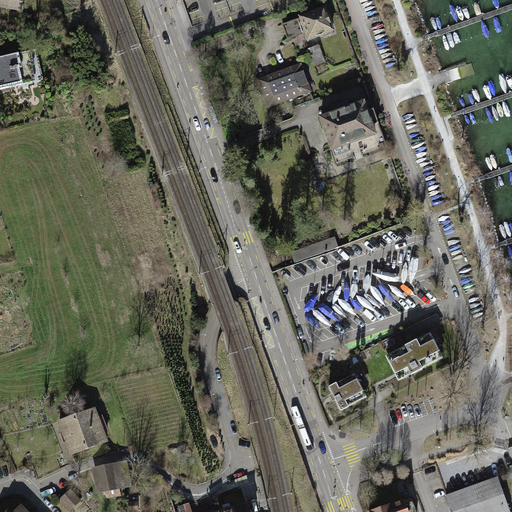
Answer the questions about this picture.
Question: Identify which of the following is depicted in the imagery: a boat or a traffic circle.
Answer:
boat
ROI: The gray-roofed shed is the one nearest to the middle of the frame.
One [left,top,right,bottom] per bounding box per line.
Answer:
[292,236,338,262]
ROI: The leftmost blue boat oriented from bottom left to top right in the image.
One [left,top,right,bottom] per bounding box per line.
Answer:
[304,293,320,312]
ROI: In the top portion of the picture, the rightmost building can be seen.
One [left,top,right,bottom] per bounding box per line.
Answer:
[318,97,384,164]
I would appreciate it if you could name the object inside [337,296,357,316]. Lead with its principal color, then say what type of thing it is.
white boat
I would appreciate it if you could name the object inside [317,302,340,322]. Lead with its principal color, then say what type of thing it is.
blue boat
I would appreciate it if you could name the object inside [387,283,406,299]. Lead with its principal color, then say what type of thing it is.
white boat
